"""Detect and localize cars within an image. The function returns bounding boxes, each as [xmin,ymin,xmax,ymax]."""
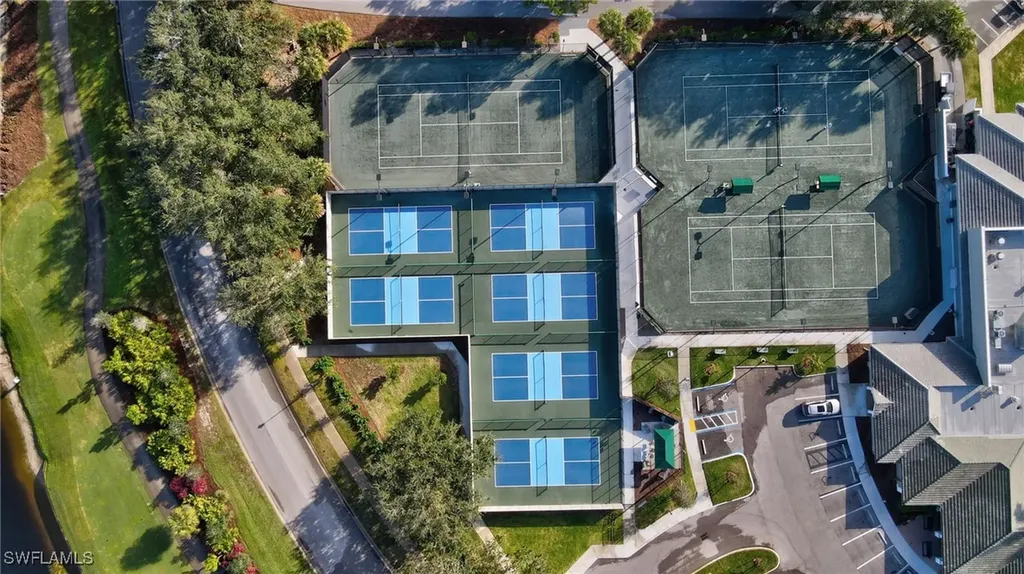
[803,400,841,418]
[1008,0,1024,17]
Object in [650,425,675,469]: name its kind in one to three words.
building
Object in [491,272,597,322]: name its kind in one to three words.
sports court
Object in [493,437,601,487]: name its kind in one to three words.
sports court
